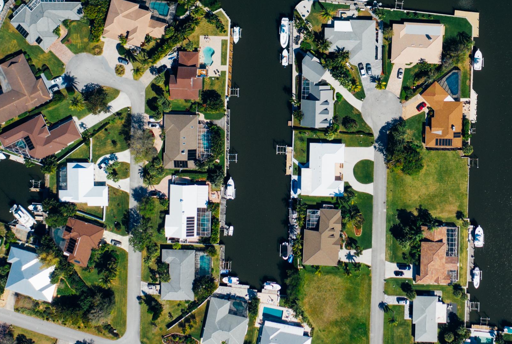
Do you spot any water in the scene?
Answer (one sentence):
Yes, water shows up in the scene.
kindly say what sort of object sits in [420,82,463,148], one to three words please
house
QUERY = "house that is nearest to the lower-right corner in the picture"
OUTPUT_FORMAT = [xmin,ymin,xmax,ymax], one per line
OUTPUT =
[413,295,446,344]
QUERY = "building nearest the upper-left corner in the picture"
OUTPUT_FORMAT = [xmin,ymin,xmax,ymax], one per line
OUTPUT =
[10,2,85,51]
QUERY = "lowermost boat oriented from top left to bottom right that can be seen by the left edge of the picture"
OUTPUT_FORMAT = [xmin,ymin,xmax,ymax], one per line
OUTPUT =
[13,203,38,225]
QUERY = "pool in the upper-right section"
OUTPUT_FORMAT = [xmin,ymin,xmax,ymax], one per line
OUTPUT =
[446,72,459,96]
